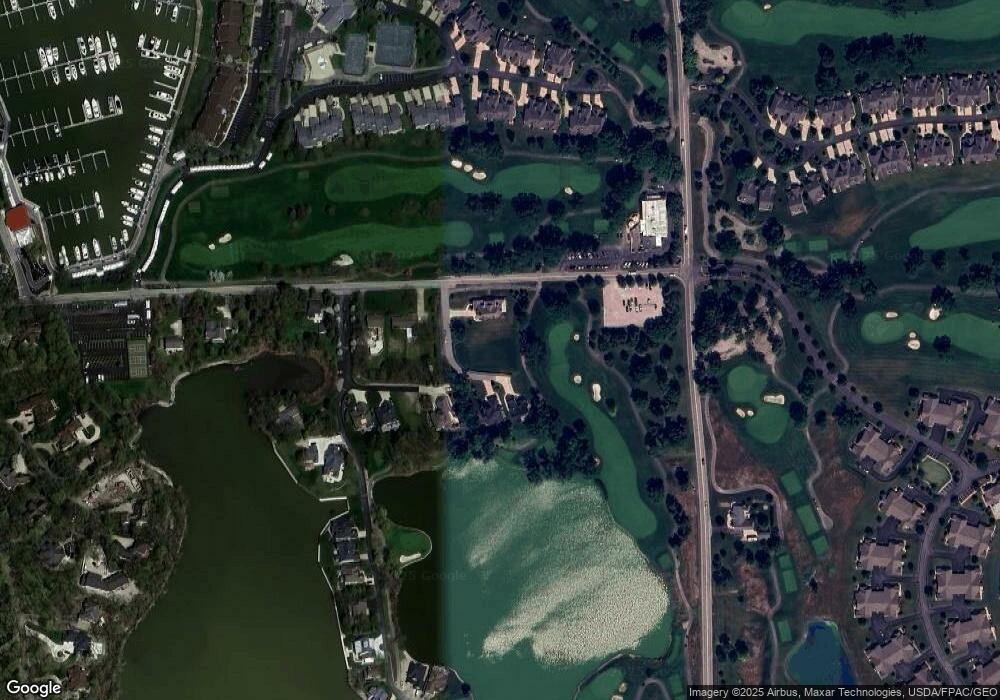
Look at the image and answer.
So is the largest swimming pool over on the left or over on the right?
left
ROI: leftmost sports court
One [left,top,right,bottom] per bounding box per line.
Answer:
[126,339,148,380]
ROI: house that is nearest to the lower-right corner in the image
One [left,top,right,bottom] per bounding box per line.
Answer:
[972,662,1000,698]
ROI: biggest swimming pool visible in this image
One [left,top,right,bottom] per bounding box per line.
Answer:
[305,43,345,80]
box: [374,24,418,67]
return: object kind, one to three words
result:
tennis court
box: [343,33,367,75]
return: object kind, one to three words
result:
tennis court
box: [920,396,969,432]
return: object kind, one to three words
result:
house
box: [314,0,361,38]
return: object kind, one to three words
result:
building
